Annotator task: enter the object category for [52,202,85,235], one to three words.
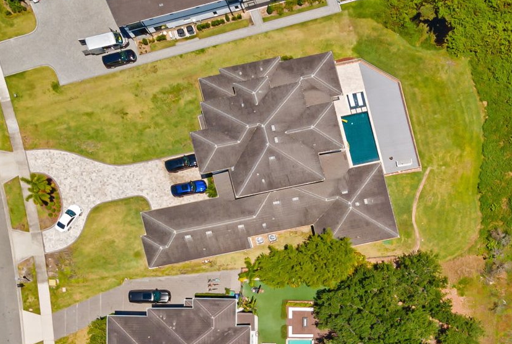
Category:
car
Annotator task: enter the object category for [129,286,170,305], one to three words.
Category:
car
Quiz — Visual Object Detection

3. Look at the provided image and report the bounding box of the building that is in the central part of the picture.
[141,50,400,270]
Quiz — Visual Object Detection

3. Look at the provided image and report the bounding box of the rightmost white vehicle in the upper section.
[74,30,126,53]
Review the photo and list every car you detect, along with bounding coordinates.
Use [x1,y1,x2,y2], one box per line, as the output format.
[170,180,207,197]
[52,202,85,235]
[129,286,170,305]
[101,47,138,68]
[163,153,198,173]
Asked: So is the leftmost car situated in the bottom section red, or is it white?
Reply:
white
